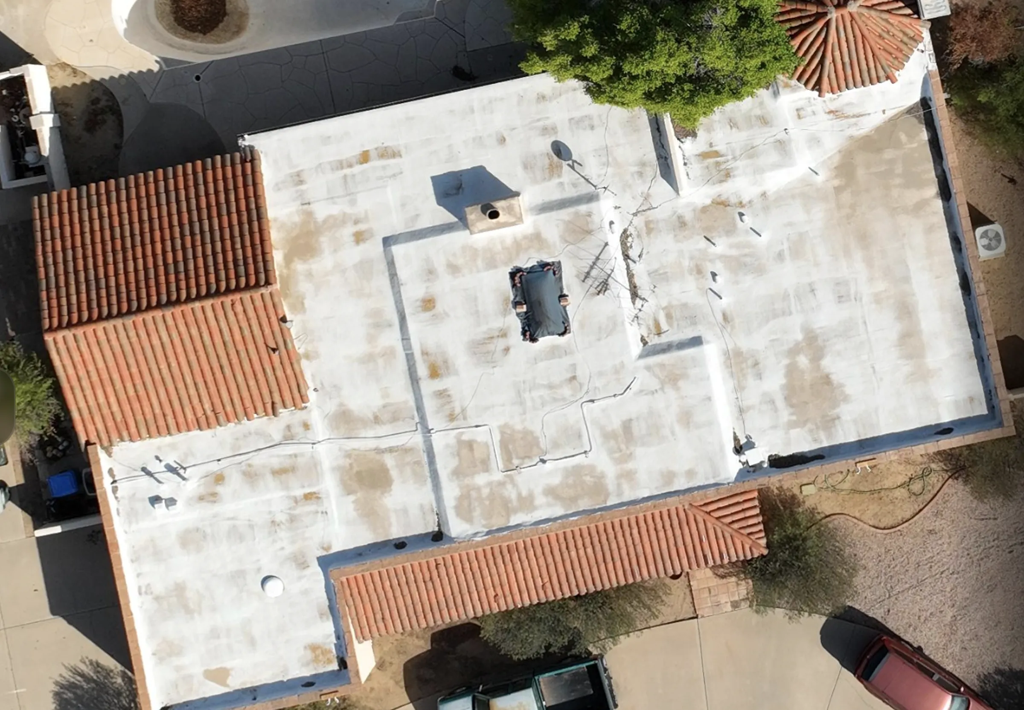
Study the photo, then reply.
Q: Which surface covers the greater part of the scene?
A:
buildings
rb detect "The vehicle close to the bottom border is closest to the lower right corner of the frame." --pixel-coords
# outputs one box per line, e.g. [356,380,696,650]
[852,633,992,710]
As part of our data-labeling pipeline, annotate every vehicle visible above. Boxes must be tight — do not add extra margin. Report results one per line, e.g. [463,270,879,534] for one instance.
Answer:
[440,651,620,710]
[852,633,992,710]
